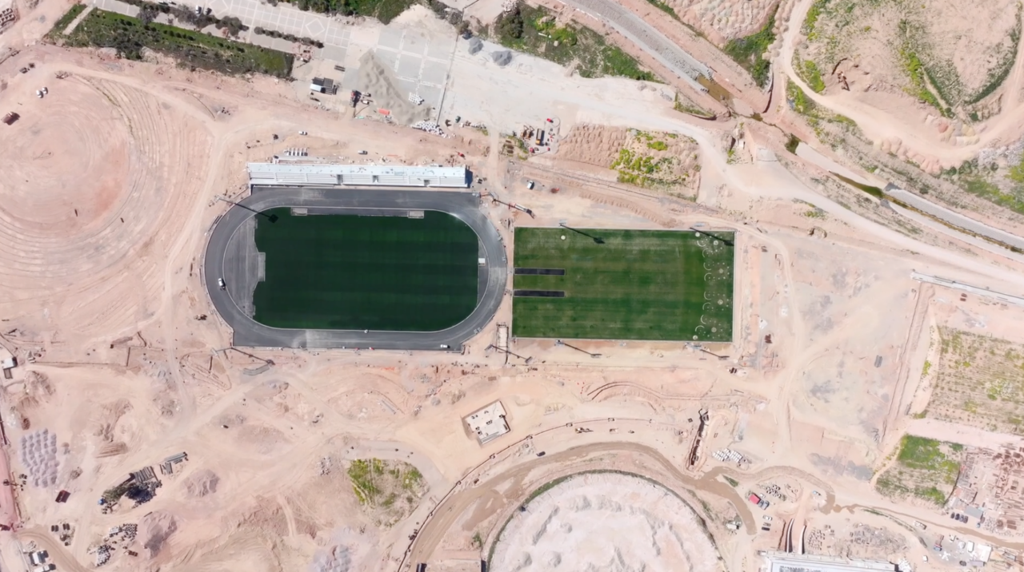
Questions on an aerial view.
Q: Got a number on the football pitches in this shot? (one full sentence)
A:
Looking from above, you can make out 2 football pitches.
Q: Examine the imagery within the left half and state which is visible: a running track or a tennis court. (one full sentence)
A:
It is a running track that can be seen within the left half.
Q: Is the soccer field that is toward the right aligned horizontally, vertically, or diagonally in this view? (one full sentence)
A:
The soccer field that is toward the right runs horizontally in the image.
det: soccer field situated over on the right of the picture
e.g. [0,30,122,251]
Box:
[511,226,735,343]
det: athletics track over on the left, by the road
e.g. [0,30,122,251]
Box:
[205,187,507,351]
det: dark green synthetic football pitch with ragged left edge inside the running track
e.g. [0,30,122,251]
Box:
[253,207,478,331]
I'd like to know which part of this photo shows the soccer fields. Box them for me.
[511,226,735,343]
[253,207,478,331]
